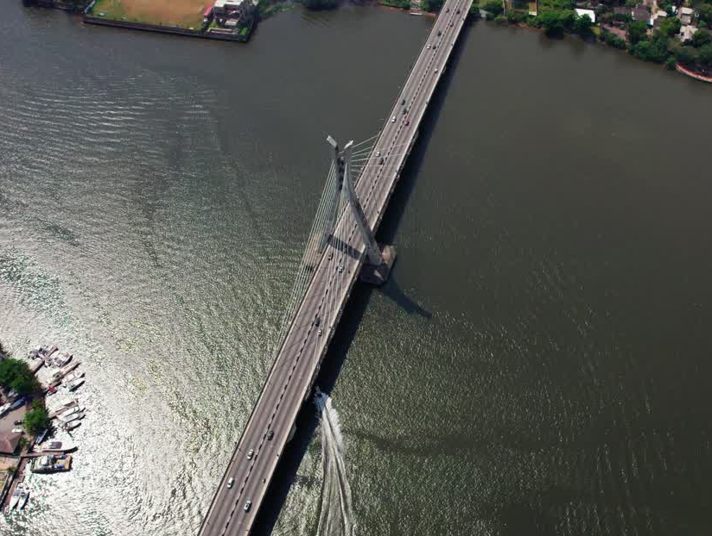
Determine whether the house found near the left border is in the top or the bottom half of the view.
bottom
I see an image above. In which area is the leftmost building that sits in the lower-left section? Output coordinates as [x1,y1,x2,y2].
[0,431,24,454]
